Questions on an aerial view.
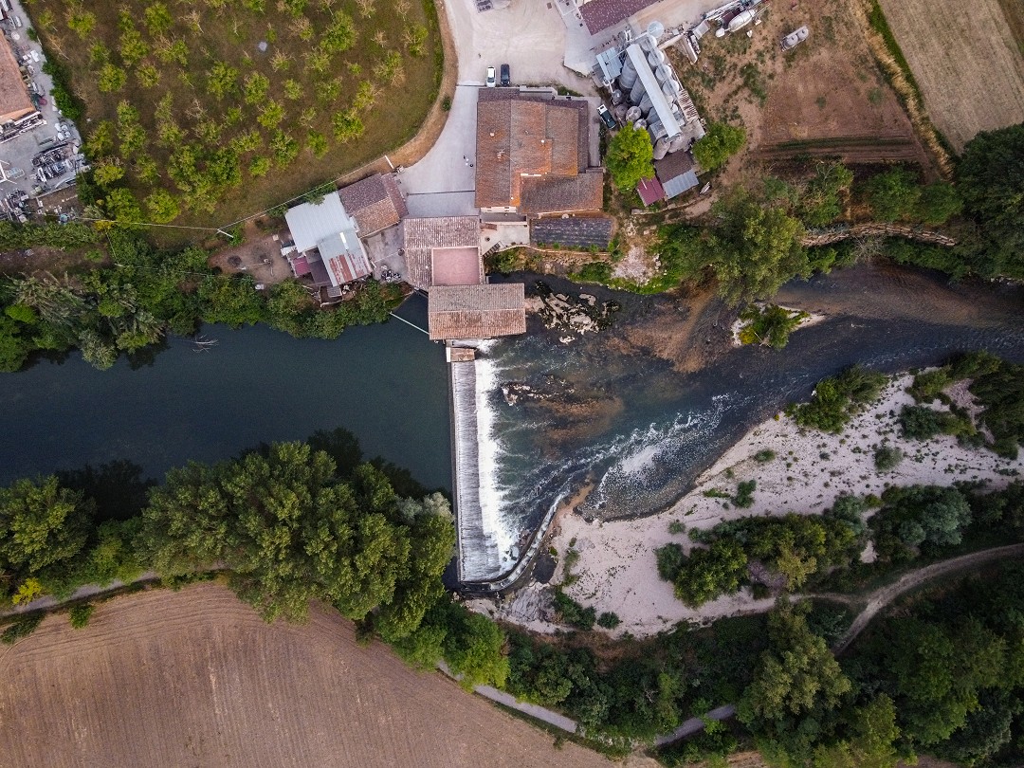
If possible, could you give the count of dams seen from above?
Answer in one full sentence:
There is 1 dam in the image.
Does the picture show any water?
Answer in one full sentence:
Yes, some water is visible.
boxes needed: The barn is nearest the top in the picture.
[574,0,669,39]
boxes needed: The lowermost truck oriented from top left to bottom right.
[597,101,619,128]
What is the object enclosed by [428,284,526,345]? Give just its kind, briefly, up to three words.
house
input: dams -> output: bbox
[449,361,500,579]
